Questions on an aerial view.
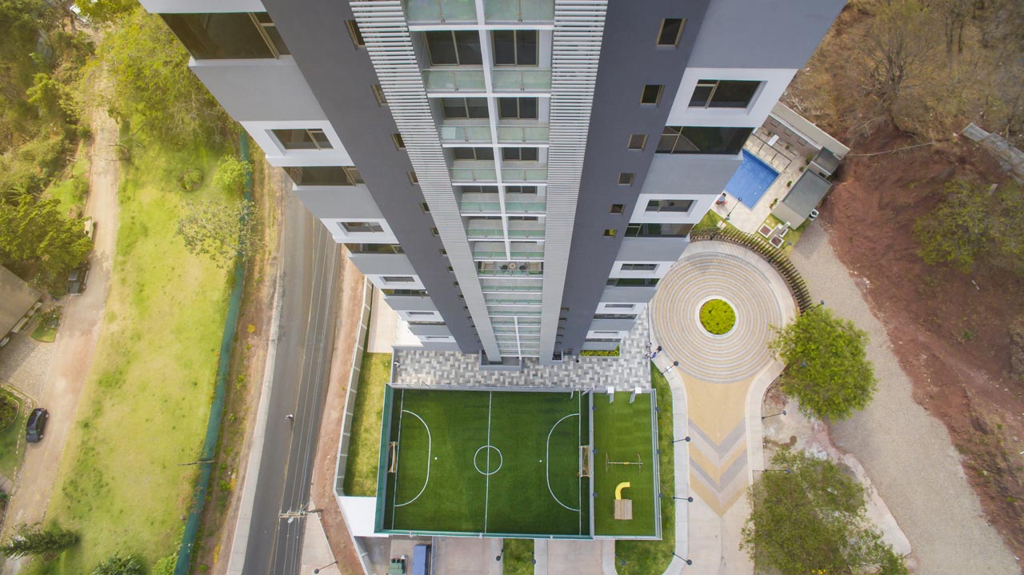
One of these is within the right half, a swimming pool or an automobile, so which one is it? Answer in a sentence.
You can see a swimming pool within the right half.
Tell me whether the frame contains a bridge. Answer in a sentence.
No, there appears to be no bridge in this shot.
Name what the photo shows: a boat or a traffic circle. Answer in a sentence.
Visible in the photo is a traffic circle.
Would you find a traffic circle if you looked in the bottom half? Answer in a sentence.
Yes, the scene does show a traffic circle in the bottom half.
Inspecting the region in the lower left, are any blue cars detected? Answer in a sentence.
No, in the lower left there is no blue car.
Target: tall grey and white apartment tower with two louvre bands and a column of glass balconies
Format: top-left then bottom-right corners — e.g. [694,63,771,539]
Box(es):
[138,0,838,362]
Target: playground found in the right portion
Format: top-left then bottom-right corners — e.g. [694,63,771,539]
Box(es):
[593,392,656,537]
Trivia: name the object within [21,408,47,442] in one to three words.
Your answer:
car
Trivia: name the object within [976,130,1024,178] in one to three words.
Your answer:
shed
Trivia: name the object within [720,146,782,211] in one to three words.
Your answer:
swimming pool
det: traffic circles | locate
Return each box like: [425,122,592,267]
[640,240,800,514]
